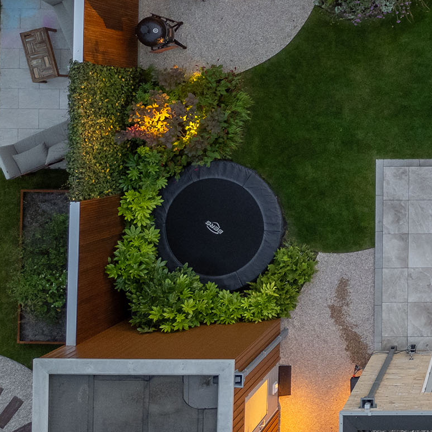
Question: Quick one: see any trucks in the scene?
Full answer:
No, I can see no truck in this picture.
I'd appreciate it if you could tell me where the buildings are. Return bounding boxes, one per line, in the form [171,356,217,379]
[30,318,290,432]
[342,346,432,432]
